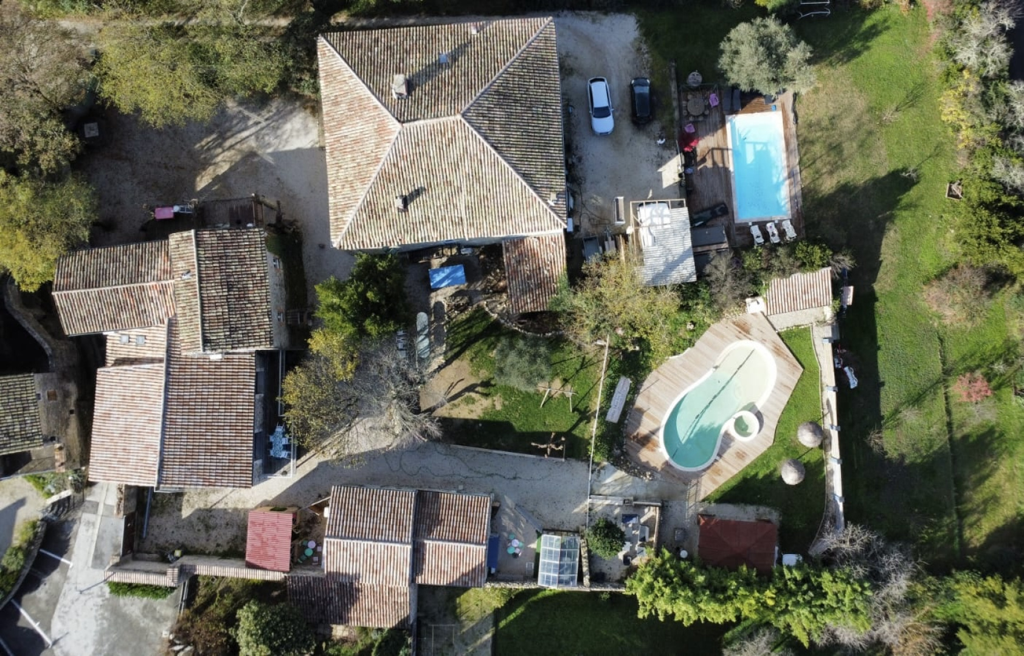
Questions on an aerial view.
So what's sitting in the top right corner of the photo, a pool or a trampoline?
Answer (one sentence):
The feature located in the top right corner of the photo is a pool.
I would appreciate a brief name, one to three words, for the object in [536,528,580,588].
greenhouse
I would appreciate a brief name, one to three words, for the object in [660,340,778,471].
swimming pool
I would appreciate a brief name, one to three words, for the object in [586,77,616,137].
car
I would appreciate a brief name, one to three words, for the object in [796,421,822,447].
umbrella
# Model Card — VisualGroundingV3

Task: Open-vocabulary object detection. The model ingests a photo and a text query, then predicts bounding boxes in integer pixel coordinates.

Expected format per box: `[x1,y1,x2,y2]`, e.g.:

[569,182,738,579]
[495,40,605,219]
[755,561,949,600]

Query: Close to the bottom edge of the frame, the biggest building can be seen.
[287,480,500,629]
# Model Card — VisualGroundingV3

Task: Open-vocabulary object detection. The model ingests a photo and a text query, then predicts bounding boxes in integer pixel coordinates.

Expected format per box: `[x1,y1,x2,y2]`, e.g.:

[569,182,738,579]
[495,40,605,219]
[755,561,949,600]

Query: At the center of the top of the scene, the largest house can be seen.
[315,15,567,260]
